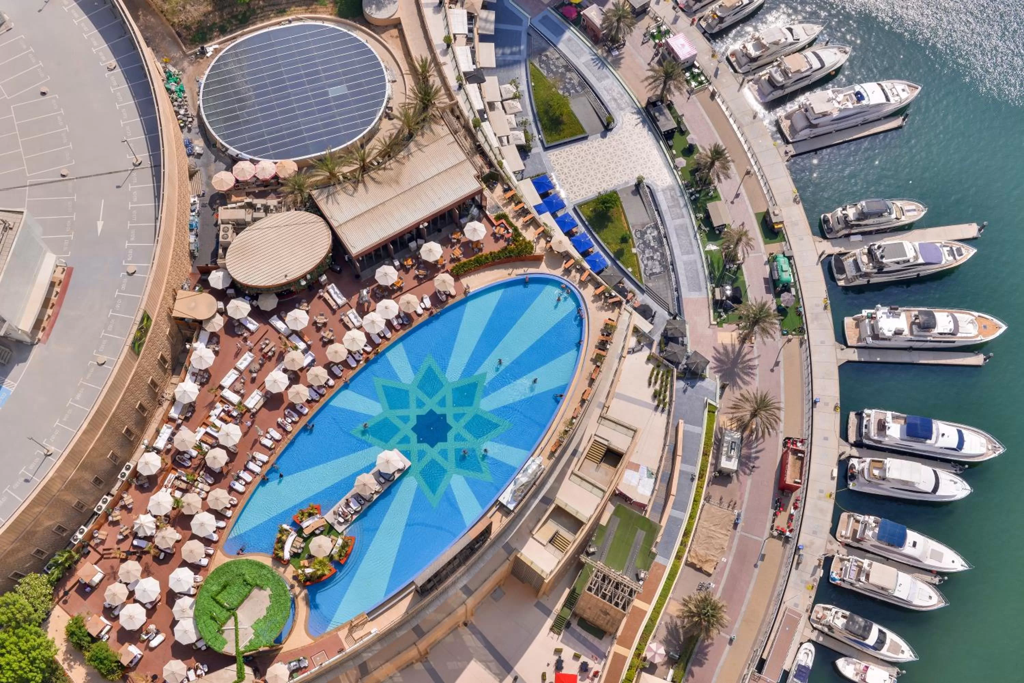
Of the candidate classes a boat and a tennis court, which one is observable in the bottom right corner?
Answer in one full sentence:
Looking in the bottom right corner, you will find a boat.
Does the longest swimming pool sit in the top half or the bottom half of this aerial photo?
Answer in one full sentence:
You can find the longest swimming pool in the bottom half.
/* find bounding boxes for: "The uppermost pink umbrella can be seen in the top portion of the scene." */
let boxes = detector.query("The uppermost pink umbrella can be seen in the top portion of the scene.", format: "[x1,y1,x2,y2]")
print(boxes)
[562,8,577,24]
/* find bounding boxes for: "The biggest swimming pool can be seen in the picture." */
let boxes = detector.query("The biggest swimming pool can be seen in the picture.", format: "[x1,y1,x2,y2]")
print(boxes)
[216,270,590,641]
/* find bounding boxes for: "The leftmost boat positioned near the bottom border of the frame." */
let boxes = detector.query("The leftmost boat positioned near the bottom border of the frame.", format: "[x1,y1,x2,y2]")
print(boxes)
[785,643,815,683]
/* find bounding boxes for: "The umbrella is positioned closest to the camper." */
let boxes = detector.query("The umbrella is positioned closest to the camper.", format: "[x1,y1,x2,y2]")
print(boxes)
[778,291,797,308]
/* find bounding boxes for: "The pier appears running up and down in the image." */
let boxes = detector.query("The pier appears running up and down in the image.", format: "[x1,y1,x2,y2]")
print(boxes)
[662,0,840,683]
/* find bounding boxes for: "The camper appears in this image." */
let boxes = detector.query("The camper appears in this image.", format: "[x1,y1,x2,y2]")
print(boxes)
[767,253,794,284]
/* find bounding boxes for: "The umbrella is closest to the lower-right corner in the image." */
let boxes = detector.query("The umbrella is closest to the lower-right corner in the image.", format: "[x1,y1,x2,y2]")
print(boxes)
[645,642,666,664]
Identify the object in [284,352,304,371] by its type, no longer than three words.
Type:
umbrella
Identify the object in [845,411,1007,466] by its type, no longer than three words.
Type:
boat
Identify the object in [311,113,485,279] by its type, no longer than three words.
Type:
building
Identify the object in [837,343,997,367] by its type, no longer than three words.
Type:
pier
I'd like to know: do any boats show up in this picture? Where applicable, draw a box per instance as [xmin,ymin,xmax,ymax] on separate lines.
[844,457,973,507]
[834,510,974,574]
[805,598,918,662]
[774,84,923,148]
[696,0,766,41]
[748,46,851,111]
[825,555,949,613]
[839,308,1009,354]
[785,643,815,683]
[723,20,828,75]
[828,240,976,288]
[817,200,927,243]
[845,411,1007,466]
